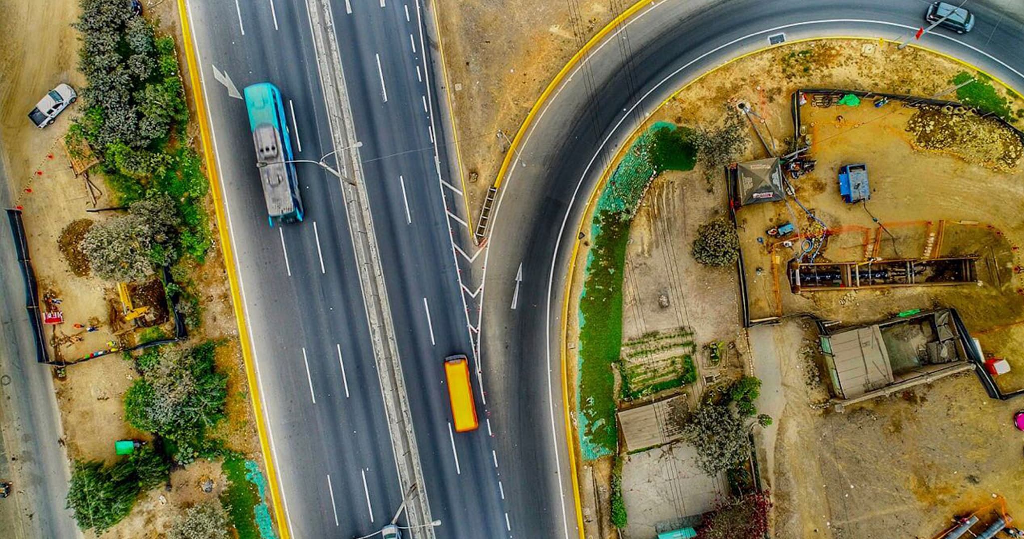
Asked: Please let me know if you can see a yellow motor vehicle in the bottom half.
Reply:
Yes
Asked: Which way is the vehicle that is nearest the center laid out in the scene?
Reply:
from top to bottom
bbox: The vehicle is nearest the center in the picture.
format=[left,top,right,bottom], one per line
[444,352,478,431]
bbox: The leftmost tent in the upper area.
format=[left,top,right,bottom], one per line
[736,158,783,207]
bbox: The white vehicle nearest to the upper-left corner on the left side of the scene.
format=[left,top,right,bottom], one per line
[26,84,79,130]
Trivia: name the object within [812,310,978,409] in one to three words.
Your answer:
building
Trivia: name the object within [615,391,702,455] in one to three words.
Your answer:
shed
